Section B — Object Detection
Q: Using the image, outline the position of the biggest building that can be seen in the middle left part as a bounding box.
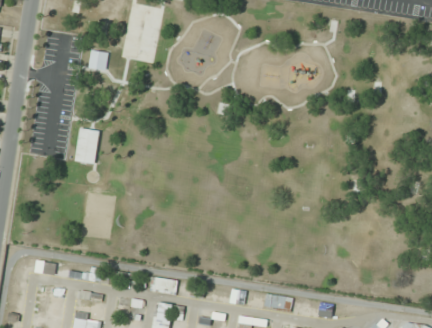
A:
[75,128,100,164]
